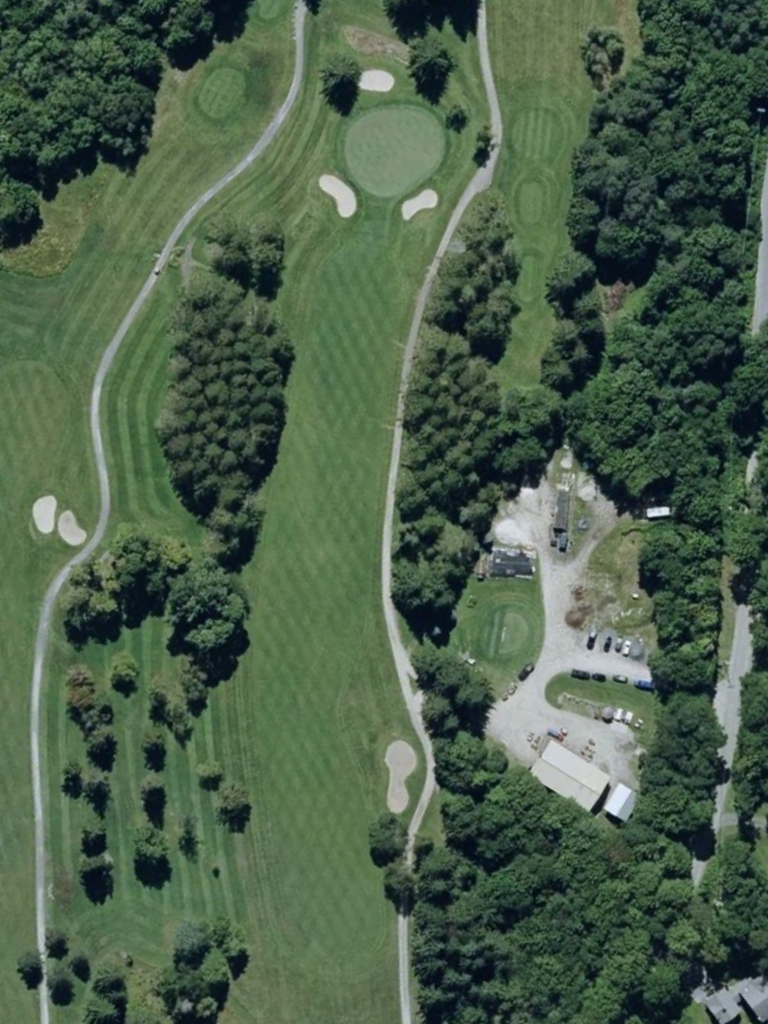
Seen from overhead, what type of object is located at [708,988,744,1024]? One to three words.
house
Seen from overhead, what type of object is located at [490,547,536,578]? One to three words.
building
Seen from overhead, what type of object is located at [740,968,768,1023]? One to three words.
house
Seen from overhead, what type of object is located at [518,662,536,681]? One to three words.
vehicle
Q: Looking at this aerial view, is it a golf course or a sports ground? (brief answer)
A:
golf course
